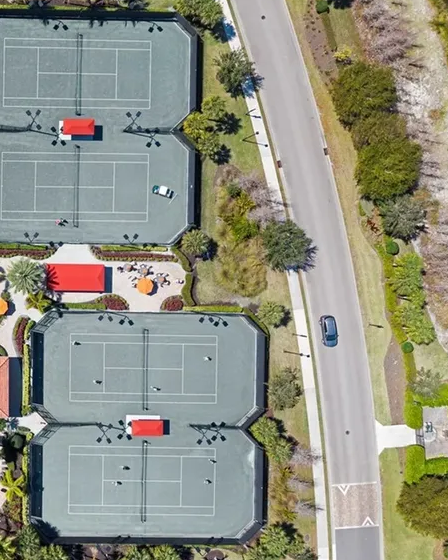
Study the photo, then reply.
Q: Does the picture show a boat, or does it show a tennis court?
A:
tennis court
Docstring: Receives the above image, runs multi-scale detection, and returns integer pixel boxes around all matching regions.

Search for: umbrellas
[0,298,8,314]
[137,277,154,294]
